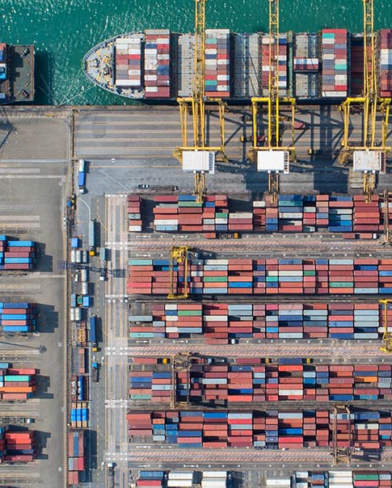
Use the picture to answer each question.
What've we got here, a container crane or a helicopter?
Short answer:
container crane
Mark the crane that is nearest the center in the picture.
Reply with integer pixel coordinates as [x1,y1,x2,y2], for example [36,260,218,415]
[168,245,194,300]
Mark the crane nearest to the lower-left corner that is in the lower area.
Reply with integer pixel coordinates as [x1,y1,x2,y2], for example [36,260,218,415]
[169,352,197,411]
